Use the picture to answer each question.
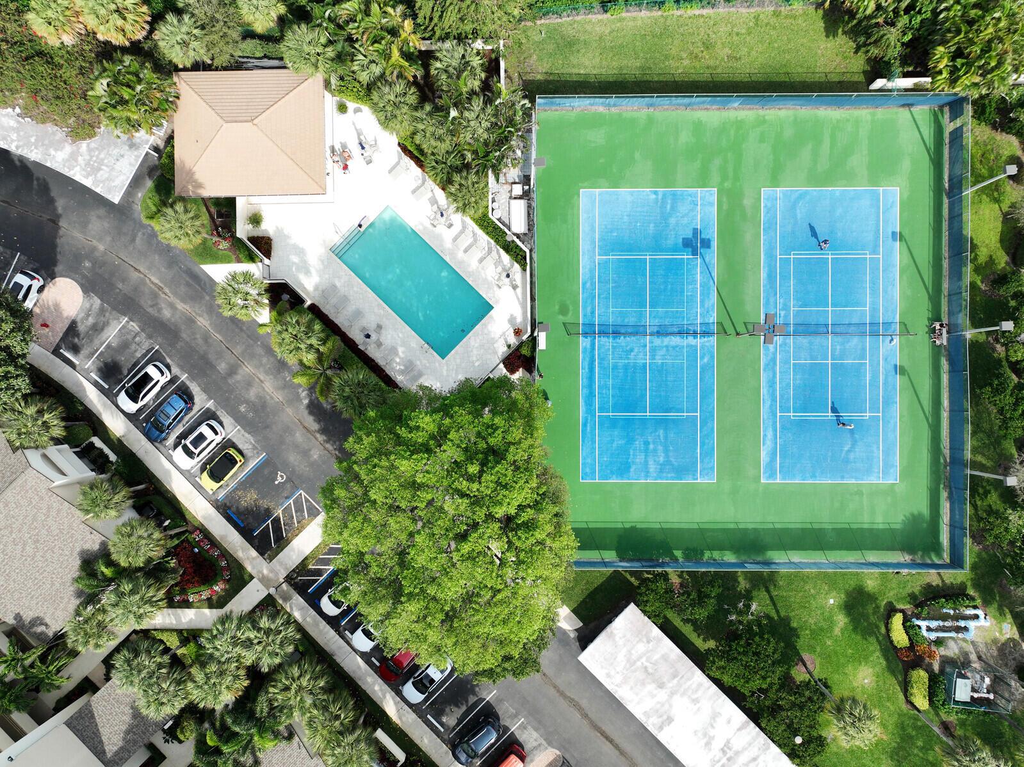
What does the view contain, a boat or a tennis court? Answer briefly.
tennis court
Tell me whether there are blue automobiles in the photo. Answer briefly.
Yes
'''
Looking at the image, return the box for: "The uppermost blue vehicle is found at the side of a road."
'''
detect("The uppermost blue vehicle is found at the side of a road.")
[147,391,194,442]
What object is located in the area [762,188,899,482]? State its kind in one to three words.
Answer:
tennis court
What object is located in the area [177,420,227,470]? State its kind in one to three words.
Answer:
car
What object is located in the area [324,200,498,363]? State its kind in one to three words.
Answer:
swimming pool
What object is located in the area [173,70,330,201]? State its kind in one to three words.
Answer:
building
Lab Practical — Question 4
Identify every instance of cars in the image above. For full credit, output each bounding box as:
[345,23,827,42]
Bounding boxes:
[177,420,227,470]
[147,391,194,442]
[2,272,45,327]
[120,361,173,410]
[203,448,245,490]
[491,742,530,767]
[321,568,372,613]
[404,653,454,700]
[381,635,431,679]
[454,711,503,762]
